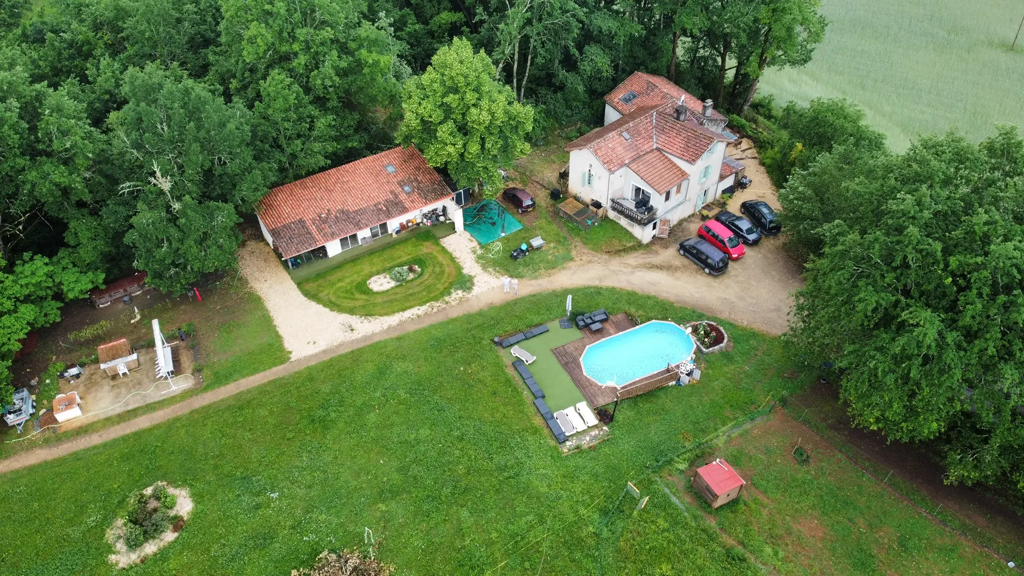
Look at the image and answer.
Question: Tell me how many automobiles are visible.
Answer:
five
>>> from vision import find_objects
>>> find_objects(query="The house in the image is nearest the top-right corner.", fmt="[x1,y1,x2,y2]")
[563,70,744,244]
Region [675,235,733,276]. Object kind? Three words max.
car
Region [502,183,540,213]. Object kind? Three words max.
car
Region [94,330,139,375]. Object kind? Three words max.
shed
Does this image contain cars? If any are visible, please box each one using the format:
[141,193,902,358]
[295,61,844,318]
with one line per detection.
[696,214,751,261]
[713,207,767,247]
[502,183,540,213]
[675,235,733,276]
[741,198,788,237]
